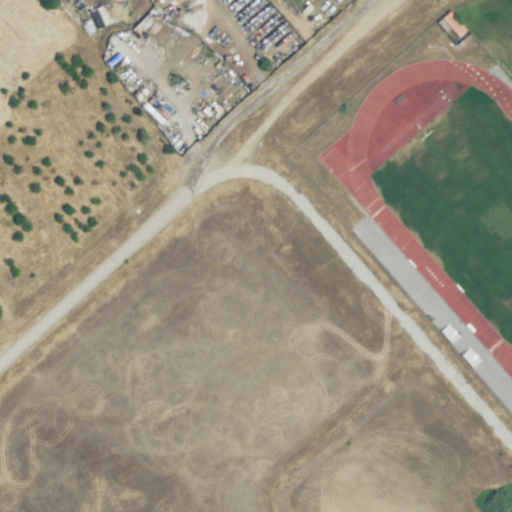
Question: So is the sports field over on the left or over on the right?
right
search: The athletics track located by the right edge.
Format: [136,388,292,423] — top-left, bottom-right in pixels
[320,60,512,380]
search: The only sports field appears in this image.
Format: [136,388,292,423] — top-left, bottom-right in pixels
[371,86,512,348]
